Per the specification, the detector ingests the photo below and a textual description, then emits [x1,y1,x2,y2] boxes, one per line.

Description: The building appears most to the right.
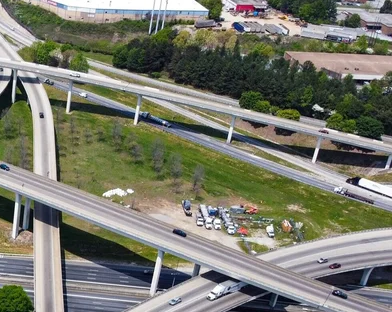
[351,10,392,34]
